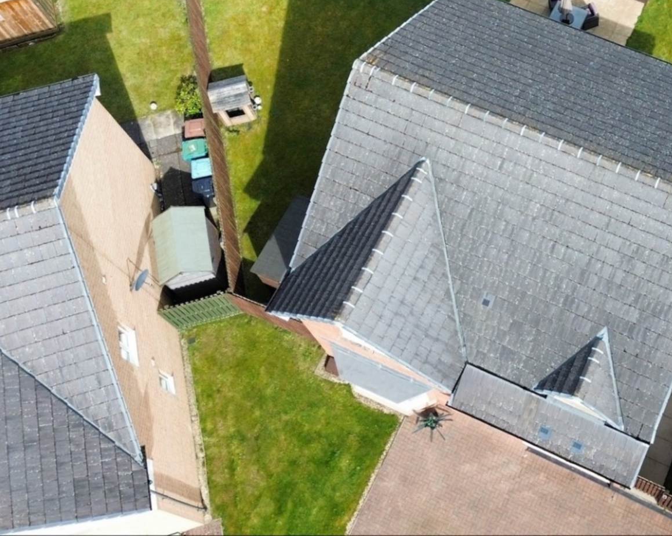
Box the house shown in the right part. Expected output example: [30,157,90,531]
[265,0,672,491]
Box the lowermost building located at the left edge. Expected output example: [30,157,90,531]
[0,74,208,536]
